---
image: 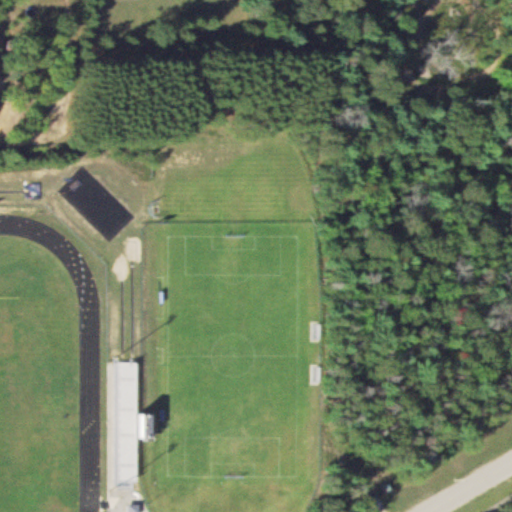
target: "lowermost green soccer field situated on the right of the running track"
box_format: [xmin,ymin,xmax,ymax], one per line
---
[150,224,318,512]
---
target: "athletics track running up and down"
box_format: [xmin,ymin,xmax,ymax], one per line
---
[0,216,100,512]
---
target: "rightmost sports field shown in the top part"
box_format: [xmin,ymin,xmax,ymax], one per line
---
[161,140,313,218]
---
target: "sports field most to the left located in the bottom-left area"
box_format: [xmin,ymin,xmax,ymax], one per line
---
[0,236,80,512]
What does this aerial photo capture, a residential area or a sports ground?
sports ground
